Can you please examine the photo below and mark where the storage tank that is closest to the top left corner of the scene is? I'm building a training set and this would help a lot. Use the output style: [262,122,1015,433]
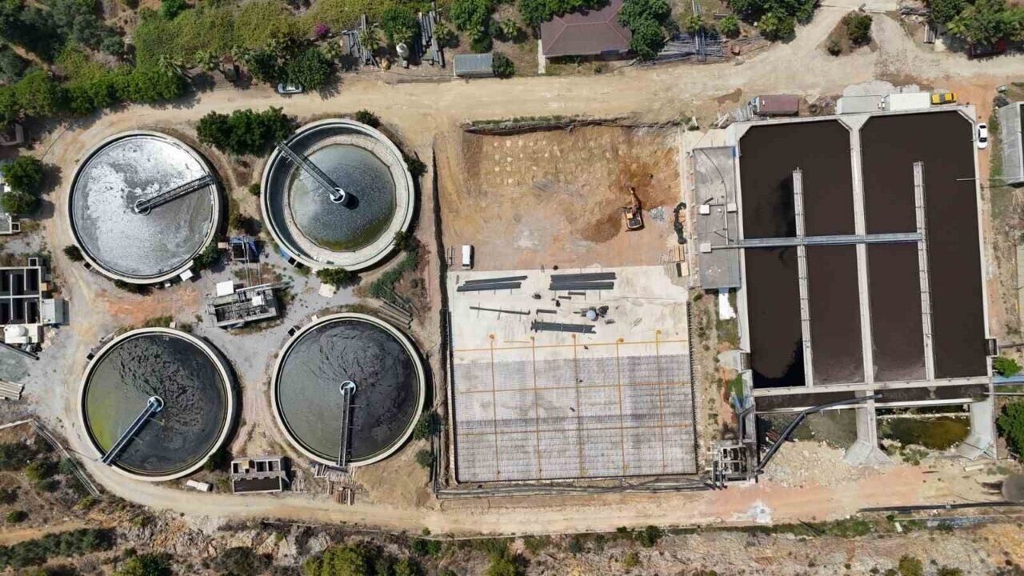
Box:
[67,130,226,283]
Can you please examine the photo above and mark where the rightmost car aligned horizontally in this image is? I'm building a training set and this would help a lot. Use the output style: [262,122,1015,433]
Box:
[932,91,958,103]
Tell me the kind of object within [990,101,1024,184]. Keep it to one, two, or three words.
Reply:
shed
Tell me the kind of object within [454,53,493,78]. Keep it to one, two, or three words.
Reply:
shed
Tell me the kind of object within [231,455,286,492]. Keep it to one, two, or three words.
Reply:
storage tank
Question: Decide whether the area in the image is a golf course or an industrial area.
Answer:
industrial area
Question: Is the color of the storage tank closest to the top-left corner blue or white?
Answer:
white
